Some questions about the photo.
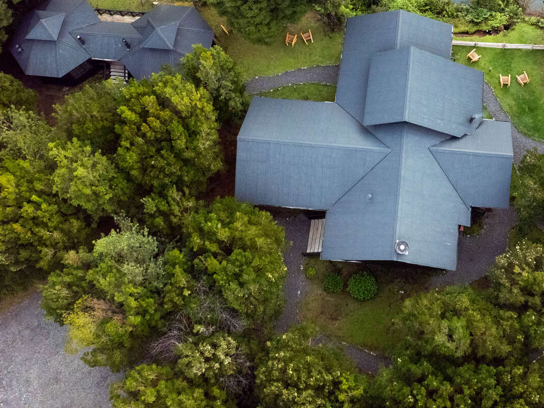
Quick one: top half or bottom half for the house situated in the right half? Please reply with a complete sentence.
Seen from above, the house situated in the right half lies in the top half of the view.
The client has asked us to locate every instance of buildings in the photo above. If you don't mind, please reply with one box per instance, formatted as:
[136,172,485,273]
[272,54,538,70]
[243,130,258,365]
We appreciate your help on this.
[8,0,220,95]
[235,10,513,271]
